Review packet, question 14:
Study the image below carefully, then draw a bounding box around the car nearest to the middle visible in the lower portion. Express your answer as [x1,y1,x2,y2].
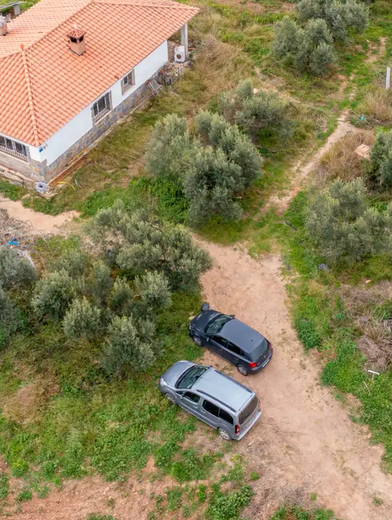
[189,309,275,377]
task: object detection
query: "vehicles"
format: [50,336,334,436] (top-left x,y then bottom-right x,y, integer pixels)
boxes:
[189,309,275,377]
[158,357,263,442]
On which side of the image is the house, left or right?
left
